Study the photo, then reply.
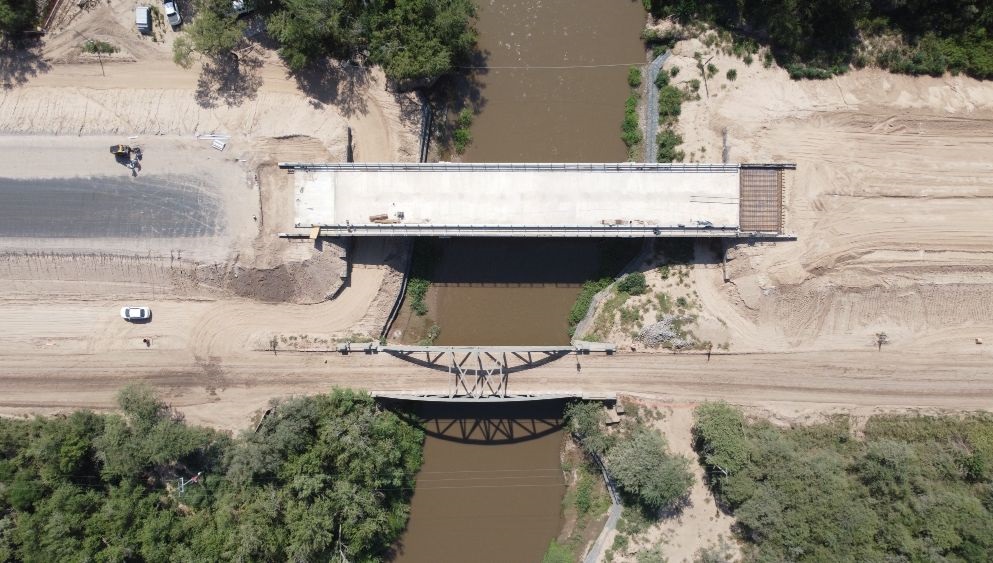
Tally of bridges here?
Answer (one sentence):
I count 2 bridges.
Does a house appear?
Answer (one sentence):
No, no house can be seen from above.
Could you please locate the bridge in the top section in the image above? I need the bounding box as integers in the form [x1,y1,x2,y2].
[277,126,797,303]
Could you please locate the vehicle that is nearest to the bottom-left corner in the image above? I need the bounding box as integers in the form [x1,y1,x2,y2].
[120,307,152,322]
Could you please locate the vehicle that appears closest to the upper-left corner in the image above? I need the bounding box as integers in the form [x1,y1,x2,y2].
[133,2,153,35]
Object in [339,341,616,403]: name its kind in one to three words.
bridge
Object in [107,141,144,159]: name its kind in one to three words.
work vehicle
